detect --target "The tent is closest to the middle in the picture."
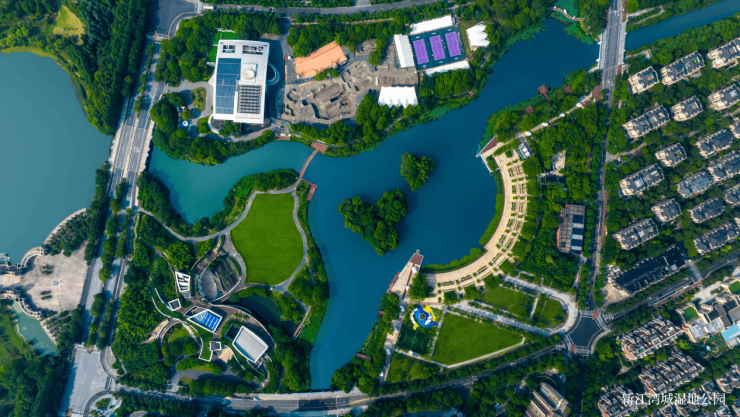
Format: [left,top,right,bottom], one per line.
[379,87,418,109]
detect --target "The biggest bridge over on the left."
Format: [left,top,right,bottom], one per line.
[110,109,156,168]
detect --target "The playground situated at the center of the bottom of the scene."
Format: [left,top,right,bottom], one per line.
[410,305,439,330]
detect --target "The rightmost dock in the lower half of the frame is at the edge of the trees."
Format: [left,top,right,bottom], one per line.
[388,249,423,299]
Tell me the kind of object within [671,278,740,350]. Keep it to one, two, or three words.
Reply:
building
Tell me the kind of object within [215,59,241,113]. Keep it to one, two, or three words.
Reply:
solar array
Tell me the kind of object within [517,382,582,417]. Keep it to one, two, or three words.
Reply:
building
